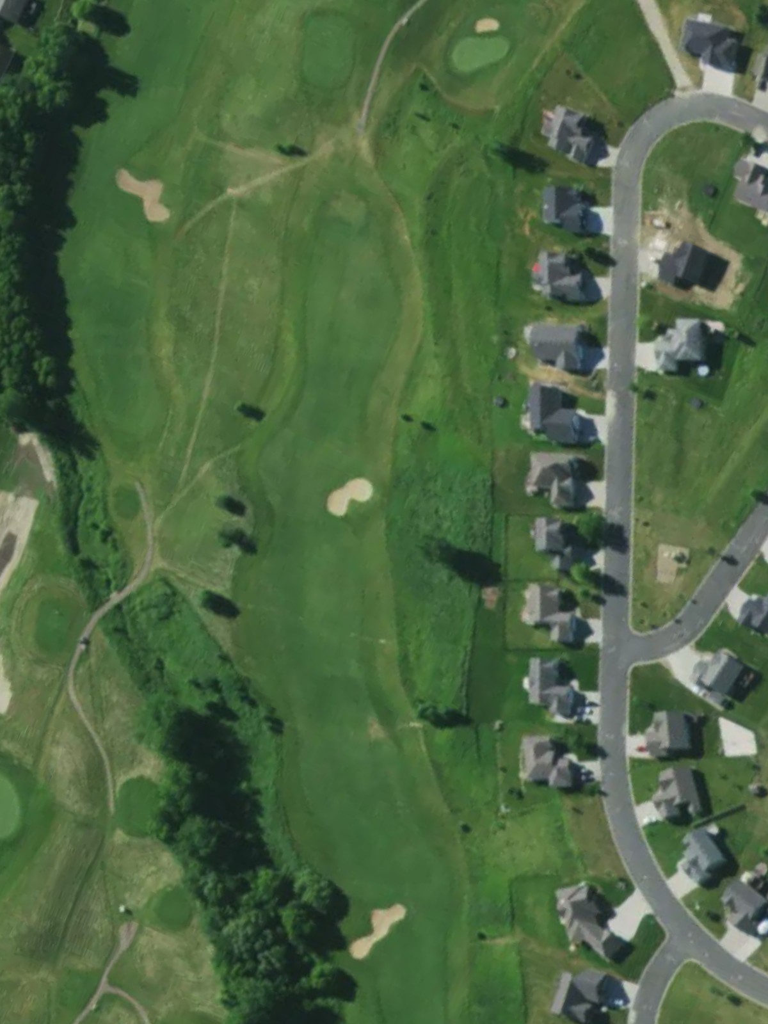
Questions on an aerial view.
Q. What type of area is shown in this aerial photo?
golf course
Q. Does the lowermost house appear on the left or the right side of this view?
right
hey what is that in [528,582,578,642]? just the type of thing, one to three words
house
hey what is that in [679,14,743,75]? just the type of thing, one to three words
house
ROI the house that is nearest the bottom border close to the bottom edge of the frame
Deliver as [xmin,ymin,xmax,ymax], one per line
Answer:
[551,967,611,1024]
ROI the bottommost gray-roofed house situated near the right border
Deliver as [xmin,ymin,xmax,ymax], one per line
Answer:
[719,875,768,939]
